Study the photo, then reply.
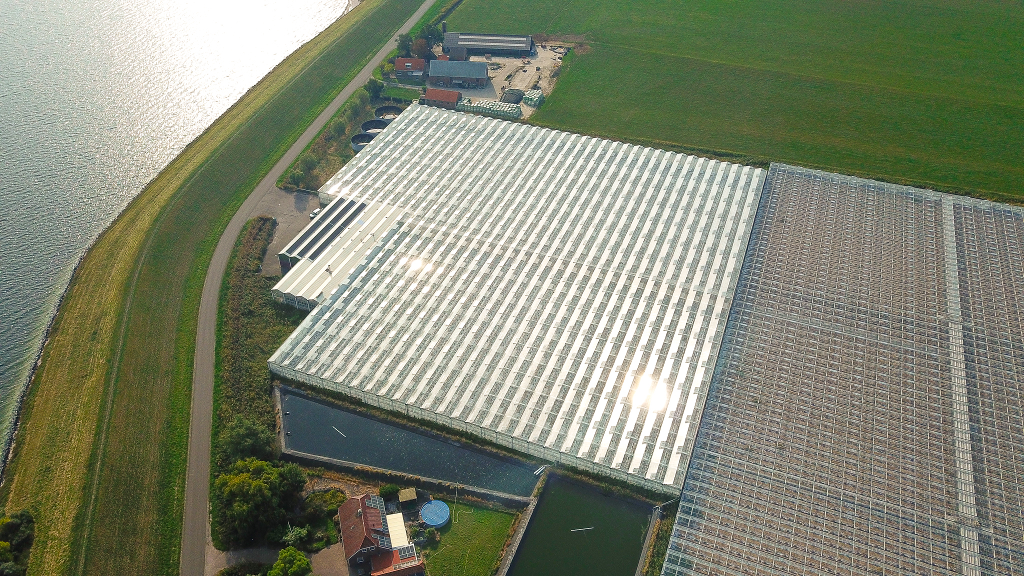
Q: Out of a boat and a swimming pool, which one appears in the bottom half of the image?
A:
swimming pool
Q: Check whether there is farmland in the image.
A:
Yes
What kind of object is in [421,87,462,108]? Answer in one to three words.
shed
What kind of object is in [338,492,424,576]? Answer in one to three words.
house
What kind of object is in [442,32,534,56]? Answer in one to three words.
barn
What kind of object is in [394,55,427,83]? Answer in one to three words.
house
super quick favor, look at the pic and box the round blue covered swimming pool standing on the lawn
[419,500,450,532]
